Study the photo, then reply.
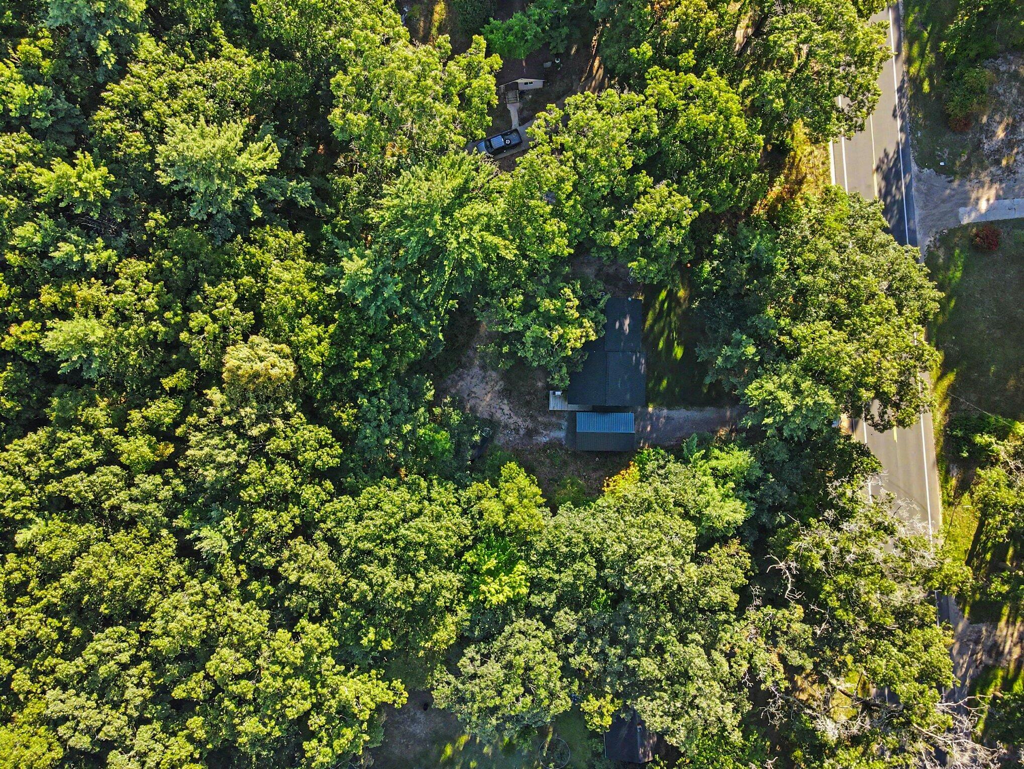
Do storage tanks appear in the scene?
No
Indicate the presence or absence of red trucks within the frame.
No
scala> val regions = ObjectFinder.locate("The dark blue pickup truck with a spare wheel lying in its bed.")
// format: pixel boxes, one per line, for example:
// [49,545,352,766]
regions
[473,129,525,160]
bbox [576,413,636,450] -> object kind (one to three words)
shed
